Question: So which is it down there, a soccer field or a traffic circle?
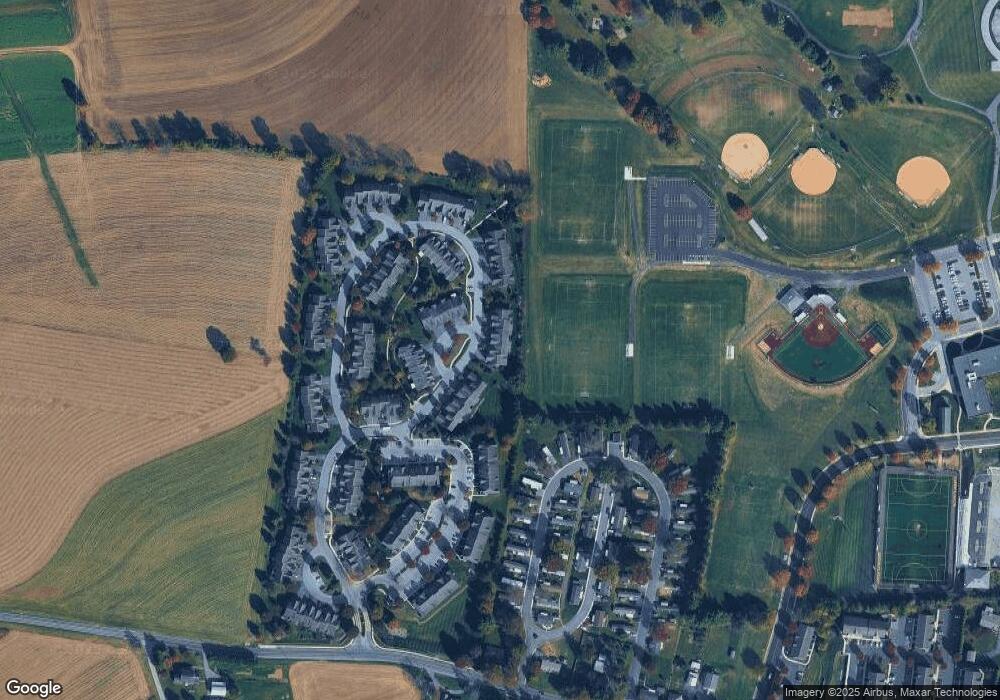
soccer field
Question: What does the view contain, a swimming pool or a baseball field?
baseball field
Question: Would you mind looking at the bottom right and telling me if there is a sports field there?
Yes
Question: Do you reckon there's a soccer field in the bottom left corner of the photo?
No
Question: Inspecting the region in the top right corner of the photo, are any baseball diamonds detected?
Yes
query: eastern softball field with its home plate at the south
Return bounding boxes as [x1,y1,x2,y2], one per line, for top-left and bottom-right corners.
[841,130,984,212]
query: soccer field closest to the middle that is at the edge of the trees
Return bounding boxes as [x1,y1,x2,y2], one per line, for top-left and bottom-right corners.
[542,275,632,406]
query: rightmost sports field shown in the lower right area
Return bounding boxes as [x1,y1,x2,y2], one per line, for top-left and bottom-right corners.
[874,469,961,589]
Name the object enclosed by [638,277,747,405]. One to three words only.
soccer field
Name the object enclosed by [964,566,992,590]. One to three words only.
building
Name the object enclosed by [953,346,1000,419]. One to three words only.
building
